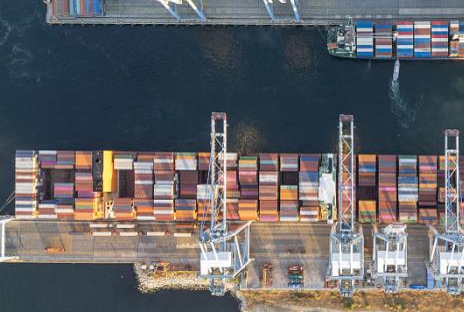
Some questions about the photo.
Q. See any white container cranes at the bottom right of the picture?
Yes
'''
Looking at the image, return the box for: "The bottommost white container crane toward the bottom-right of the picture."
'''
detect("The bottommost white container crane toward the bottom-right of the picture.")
[367,224,415,298]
